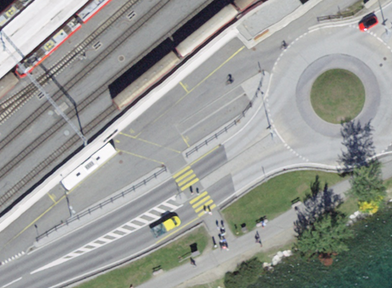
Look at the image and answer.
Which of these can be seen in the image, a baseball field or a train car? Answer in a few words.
train car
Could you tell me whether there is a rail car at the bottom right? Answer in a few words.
No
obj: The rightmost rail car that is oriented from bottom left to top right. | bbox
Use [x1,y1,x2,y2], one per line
[175,2,239,56]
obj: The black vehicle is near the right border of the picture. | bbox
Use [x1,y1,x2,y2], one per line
[359,14,380,29]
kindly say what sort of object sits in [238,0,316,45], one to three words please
building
